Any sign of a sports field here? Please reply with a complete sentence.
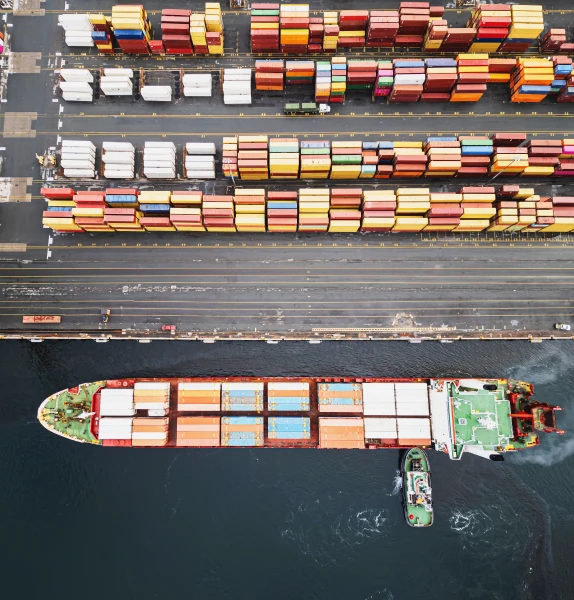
No, no sports field can be seen from above.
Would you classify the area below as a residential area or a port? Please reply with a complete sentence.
It's a port.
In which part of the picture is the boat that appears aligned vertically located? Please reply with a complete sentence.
You can find the boat that appears aligned vertically in the bottom right area of the picture.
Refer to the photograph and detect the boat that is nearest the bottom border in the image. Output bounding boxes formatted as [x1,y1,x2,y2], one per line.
[401,448,436,530]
